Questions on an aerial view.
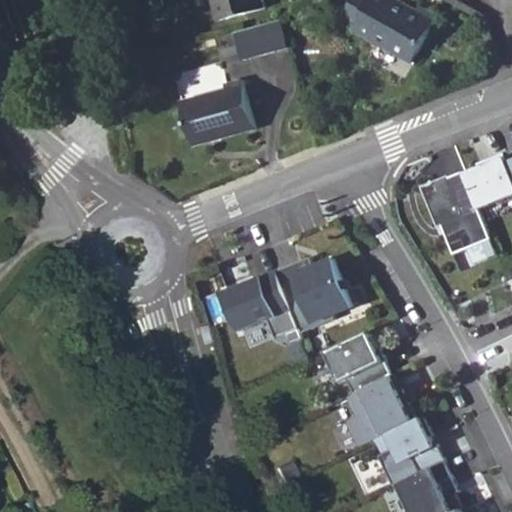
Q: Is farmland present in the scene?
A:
No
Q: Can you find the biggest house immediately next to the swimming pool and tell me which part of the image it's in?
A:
center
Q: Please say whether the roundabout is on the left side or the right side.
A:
left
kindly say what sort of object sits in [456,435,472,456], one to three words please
car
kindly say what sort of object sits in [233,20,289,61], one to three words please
building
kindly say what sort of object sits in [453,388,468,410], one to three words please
car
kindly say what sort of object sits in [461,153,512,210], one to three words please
house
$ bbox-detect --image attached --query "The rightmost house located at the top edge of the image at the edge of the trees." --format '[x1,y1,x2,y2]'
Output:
[348,0,435,62]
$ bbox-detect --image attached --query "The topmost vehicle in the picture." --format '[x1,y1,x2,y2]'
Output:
[251,224,264,246]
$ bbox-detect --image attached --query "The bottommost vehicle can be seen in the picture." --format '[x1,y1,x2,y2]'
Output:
[473,472,492,500]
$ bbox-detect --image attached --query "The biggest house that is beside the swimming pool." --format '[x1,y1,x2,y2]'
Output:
[218,277,278,332]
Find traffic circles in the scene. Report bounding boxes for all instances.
[80,196,184,305]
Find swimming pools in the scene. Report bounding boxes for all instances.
[206,294,225,324]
